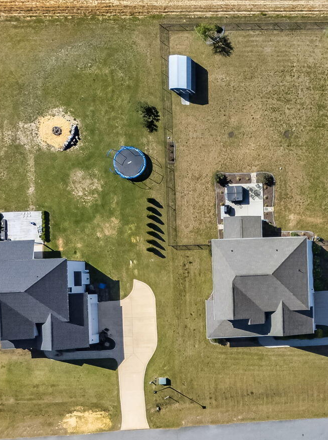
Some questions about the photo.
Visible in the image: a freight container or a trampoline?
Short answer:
trampoline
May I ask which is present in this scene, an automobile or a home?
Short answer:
home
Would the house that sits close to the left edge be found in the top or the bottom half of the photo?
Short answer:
bottom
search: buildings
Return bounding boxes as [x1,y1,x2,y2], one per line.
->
[206,215,317,339]
[0,240,98,352]
[170,54,197,105]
